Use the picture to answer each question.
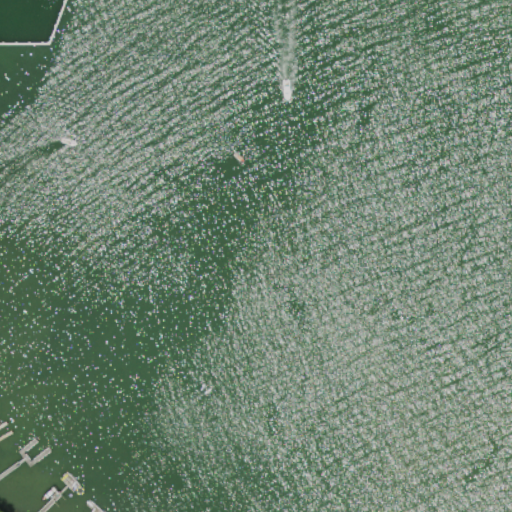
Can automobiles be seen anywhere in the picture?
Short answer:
No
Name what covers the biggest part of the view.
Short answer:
water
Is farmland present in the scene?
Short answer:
No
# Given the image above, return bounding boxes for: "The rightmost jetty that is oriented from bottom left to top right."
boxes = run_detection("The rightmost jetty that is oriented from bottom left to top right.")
[34,471,84,512]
